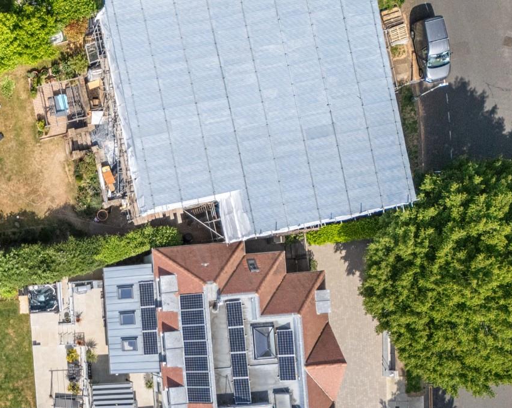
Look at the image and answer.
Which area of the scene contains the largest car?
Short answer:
top right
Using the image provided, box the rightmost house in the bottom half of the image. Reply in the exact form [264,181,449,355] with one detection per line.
[140,242,348,408]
